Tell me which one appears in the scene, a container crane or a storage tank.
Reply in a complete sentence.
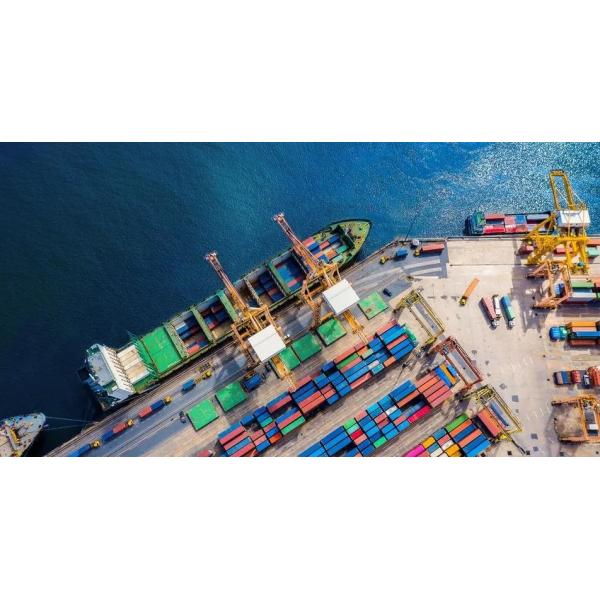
I can see a container crane in this picture.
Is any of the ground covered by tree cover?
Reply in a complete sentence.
No, the scene doesn't show any tree cover.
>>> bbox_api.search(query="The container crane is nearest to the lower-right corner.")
[553,396,600,441]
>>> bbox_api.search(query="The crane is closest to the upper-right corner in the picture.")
[519,170,596,271]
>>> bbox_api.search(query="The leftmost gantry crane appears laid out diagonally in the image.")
[205,253,295,383]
